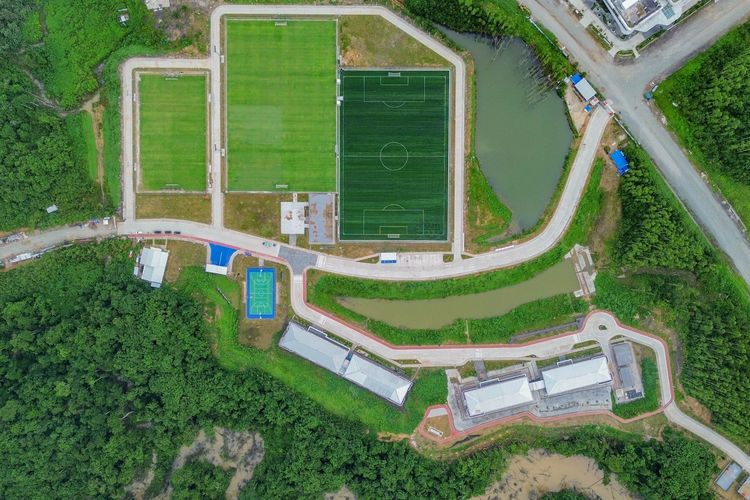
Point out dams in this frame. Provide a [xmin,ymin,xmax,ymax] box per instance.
[565,244,598,297]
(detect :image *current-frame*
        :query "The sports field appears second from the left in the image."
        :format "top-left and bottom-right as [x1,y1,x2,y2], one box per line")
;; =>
[226,19,337,192]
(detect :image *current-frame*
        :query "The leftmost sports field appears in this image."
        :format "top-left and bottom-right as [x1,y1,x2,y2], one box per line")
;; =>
[138,73,208,192]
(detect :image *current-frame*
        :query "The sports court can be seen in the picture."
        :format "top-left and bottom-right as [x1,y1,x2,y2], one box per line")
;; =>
[246,267,275,319]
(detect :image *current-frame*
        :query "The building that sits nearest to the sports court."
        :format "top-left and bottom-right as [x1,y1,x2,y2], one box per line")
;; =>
[278,320,350,375]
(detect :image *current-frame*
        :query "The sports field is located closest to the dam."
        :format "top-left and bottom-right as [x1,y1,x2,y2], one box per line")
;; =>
[339,70,450,242]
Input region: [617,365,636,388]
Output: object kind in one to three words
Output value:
building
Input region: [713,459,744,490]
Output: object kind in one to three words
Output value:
building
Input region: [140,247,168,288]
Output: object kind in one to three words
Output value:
shed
